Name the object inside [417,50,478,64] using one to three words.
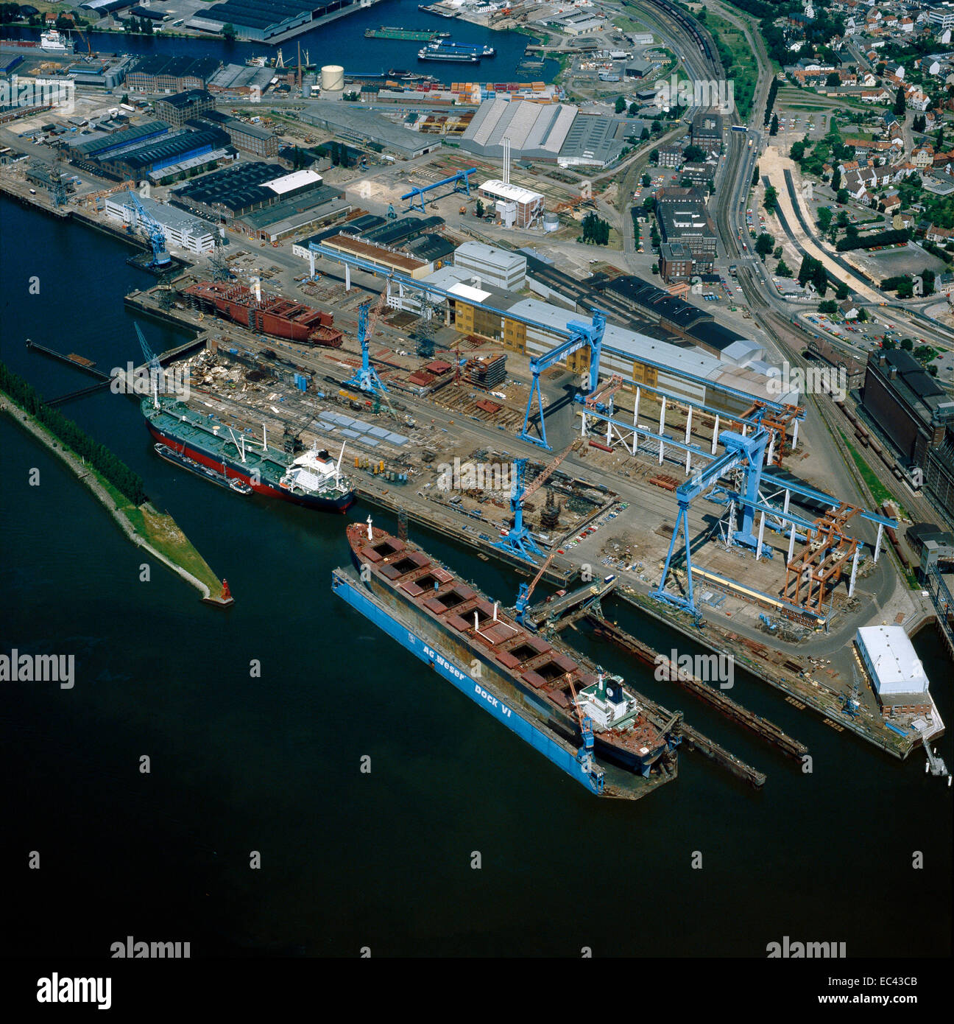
ship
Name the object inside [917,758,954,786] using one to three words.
pier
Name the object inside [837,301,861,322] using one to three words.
house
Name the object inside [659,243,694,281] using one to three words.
building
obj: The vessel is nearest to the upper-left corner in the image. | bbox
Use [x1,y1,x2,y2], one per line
[0,22,75,53]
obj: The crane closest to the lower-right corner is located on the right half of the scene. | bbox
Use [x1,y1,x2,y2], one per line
[834,664,868,725]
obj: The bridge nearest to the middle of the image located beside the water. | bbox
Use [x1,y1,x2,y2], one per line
[529,572,624,633]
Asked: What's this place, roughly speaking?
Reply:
port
